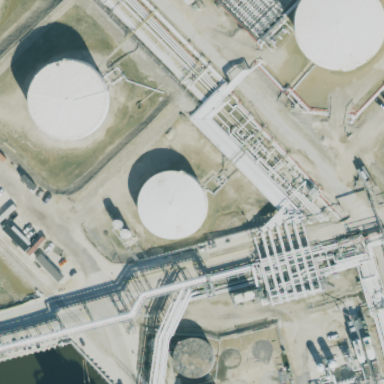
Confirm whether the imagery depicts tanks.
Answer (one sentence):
Yes, you can see a tank in this photo.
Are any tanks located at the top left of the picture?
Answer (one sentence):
Yes, a tank can be seen at the top left of the picture.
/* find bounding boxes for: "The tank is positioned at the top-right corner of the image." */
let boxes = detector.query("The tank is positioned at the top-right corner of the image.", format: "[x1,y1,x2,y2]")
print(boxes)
[292,0,384,74]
